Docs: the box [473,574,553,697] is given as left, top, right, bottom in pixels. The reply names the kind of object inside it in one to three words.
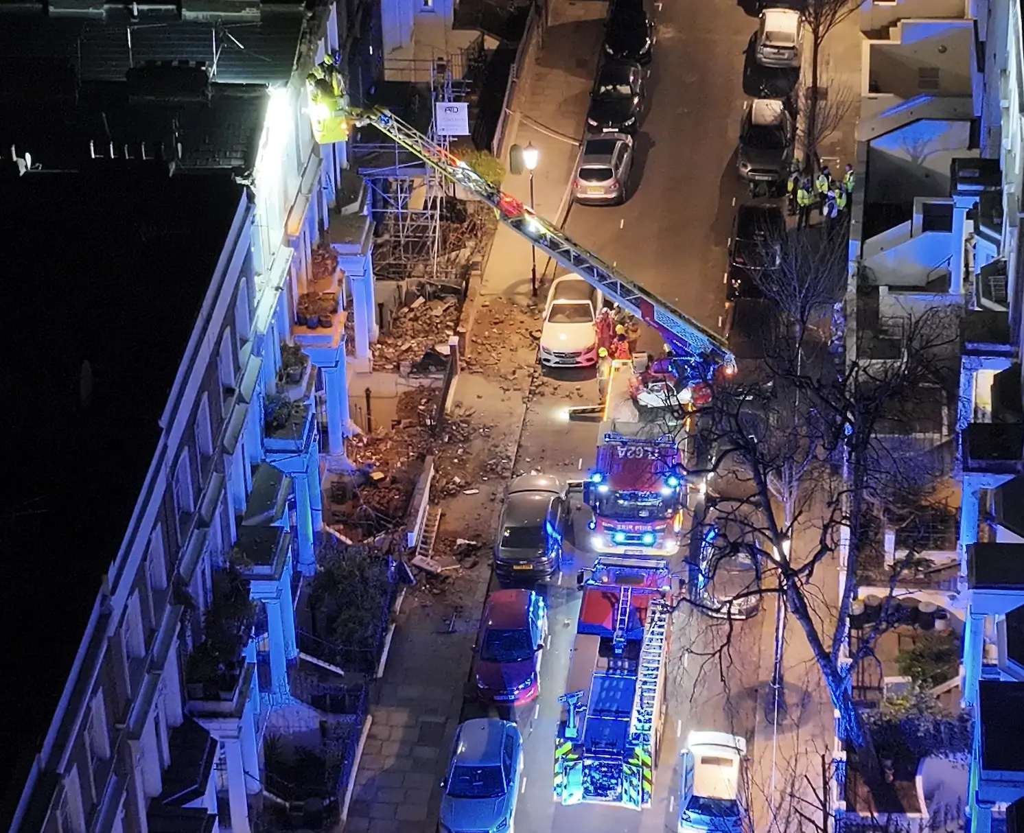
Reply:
car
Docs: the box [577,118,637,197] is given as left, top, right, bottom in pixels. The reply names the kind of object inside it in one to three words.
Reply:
car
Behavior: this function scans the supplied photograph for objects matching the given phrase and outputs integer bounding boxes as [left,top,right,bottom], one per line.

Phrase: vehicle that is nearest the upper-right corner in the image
[755,0,809,63]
